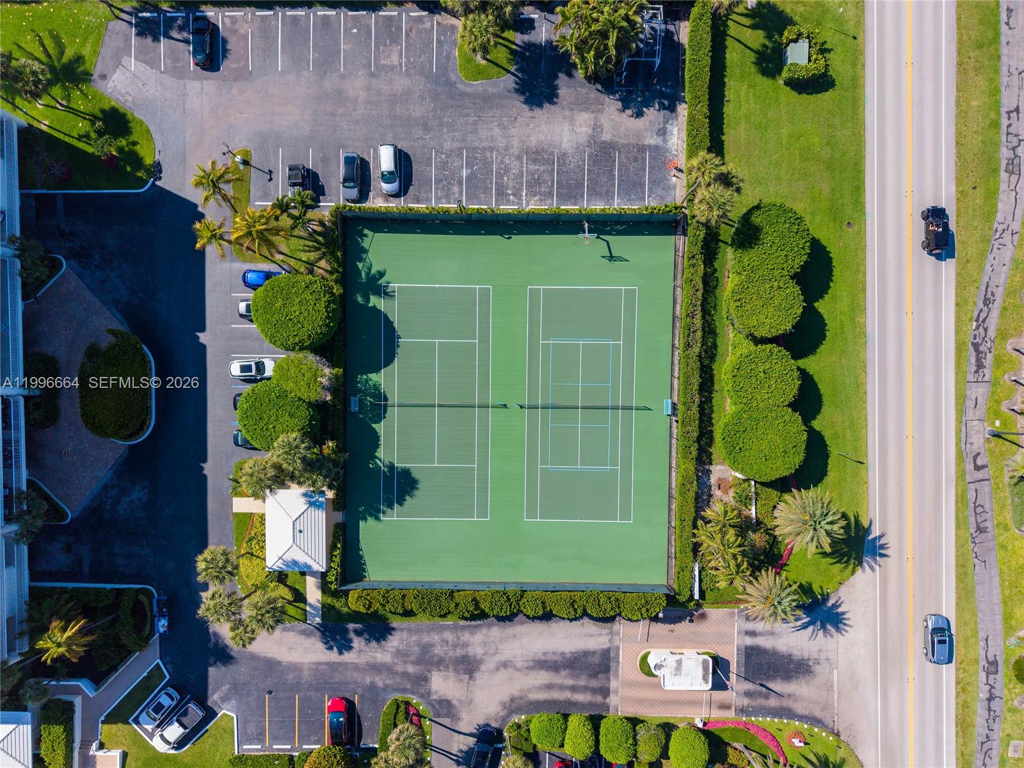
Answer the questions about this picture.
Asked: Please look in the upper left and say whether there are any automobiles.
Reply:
Yes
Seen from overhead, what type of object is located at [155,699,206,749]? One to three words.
truck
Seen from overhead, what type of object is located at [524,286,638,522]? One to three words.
tennis court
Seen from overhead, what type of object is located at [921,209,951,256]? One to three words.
car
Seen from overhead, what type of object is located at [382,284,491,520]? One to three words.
tennis court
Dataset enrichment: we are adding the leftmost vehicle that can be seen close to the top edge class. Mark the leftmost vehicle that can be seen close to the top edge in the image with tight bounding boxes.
[188,18,215,70]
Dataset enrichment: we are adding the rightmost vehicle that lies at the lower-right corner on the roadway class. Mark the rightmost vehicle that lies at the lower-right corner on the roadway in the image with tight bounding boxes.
[923,615,951,663]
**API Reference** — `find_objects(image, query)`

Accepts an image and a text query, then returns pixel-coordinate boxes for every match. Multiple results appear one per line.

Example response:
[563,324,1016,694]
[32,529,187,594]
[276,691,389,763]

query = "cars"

[286,156,311,199]
[138,686,180,729]
[230,358,274,380]
[326,697,349,746]
[188,18,215,70]
[236,301,251,320]
[923,615,951,663]
[376,143,400,197]
[339,152,362,204]
[554,753,572,768]
[241,267,283,289]
[232,393,241,411]
[921,209,951,256]
[233,432,259,452]
[473,721,496,768]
